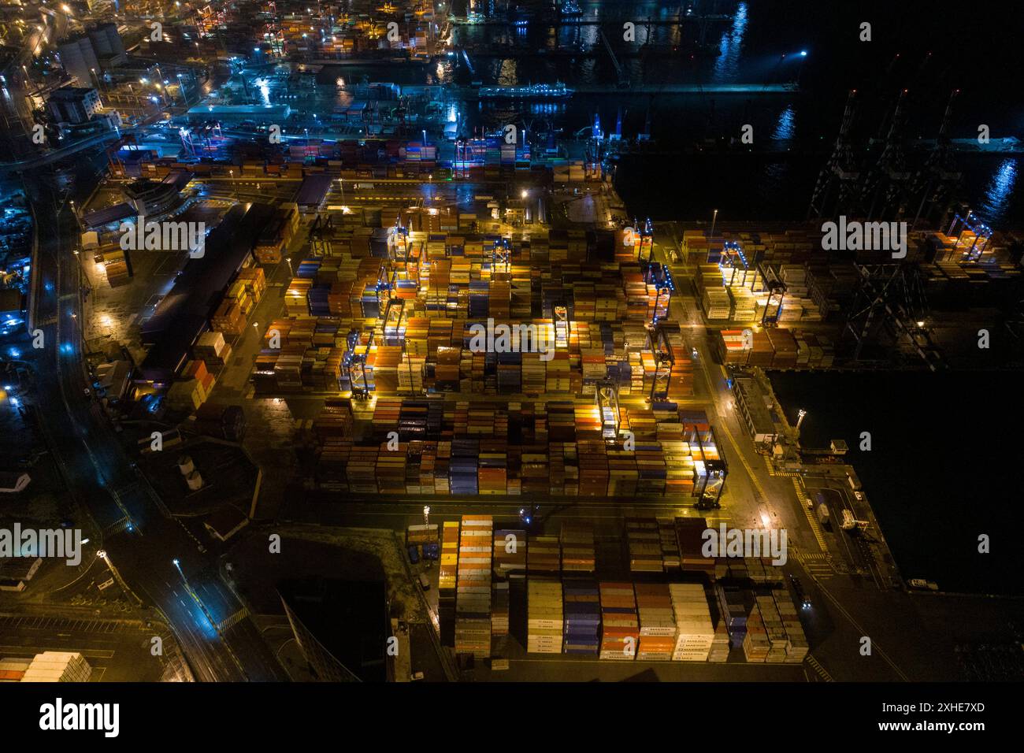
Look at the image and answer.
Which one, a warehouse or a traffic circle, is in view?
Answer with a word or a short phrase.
warehouse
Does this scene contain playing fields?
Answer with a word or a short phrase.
No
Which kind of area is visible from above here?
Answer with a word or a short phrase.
port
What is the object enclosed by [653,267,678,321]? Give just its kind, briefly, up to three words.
container crane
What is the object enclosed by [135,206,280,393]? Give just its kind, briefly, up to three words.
warehouse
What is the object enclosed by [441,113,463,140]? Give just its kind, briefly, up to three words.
shed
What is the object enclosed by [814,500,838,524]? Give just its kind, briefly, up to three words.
truck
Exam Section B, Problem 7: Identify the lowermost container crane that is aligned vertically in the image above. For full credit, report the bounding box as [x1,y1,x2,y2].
[695,422,736,506]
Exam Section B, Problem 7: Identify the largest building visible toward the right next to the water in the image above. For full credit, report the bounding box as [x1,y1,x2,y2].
[733,371,780,443]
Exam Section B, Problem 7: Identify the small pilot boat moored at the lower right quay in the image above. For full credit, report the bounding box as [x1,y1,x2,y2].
[903,574,940,590]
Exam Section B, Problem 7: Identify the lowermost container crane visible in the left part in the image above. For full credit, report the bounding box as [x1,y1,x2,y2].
[344,332,376,398]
